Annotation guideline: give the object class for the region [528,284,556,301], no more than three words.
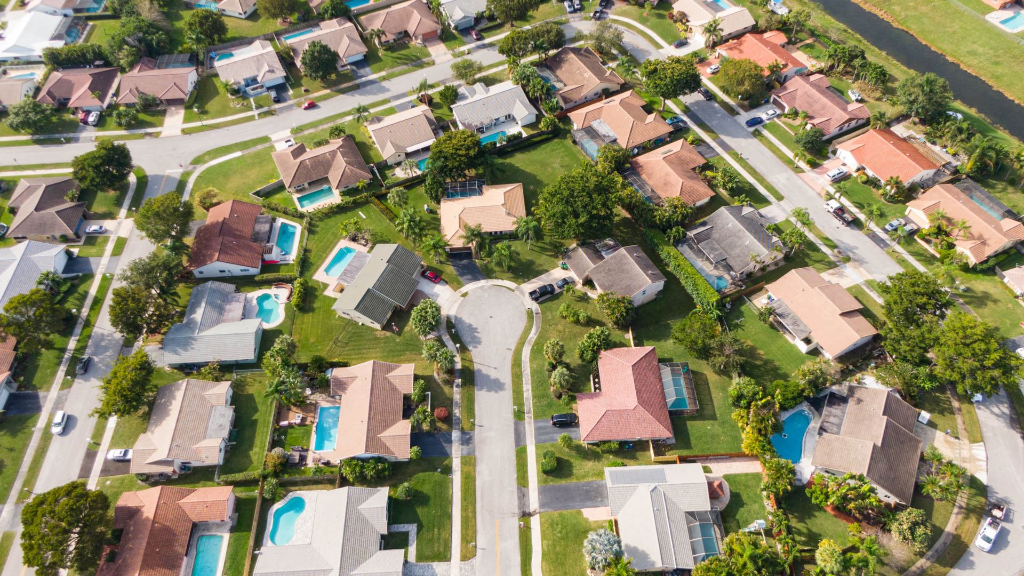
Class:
vehicle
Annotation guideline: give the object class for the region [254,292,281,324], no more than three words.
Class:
swimming pool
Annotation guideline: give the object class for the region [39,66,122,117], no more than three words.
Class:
house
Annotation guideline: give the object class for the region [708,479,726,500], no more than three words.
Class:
gazebo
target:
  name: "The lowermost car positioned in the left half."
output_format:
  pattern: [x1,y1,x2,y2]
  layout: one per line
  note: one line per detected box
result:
[104,448,130,462]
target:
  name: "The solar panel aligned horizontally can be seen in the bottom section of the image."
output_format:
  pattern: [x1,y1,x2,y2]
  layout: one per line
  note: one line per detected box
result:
[609,468,667,484]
